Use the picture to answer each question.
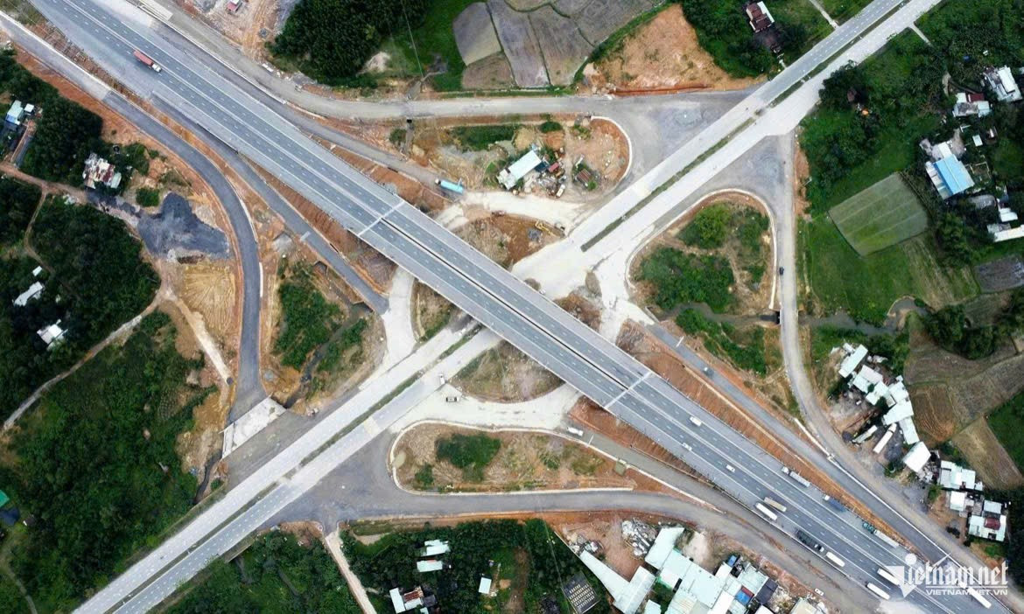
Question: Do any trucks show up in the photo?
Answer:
Yes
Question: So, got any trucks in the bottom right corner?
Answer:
Yes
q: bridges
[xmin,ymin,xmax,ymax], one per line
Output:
[358,201,651,407]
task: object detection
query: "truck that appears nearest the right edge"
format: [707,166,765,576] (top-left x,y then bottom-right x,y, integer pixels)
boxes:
[960,579,999,614]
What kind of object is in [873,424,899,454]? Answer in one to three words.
truck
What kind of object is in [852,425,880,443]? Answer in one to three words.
vehicle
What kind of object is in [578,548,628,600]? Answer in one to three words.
building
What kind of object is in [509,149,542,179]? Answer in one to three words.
house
